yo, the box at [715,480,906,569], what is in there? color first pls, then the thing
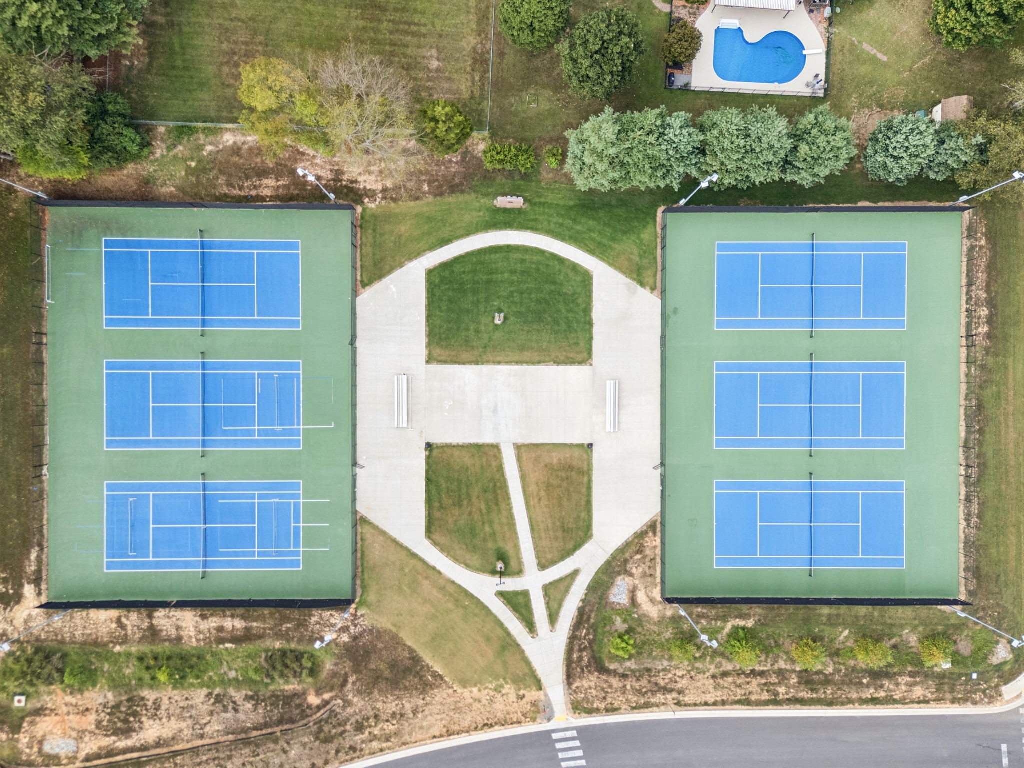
blue tennis court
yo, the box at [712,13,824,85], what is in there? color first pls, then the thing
blue swimming pool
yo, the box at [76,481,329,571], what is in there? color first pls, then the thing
blue tennis court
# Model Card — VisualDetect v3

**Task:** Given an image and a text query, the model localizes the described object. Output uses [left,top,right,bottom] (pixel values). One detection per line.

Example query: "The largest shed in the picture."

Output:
[933,94,974,130]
